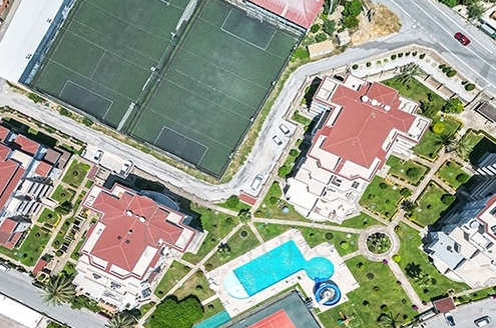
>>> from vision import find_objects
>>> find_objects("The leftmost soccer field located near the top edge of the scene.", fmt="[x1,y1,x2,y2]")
[33,0,189,128]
